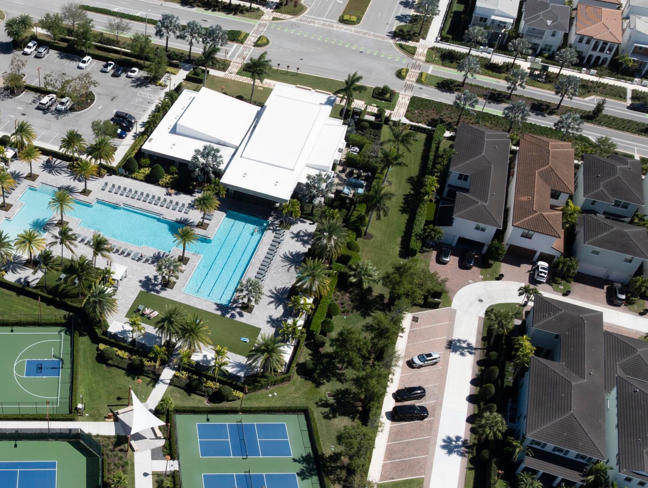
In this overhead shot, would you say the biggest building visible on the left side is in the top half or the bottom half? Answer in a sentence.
The biggest building visible on the left side sits in the top half of the picture.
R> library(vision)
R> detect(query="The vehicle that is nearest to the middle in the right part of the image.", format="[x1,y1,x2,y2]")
[438,243,454,264]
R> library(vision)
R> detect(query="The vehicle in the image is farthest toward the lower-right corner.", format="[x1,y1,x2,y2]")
[609,282,628,306]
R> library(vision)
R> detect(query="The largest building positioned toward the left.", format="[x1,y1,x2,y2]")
[141,84,347,223]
